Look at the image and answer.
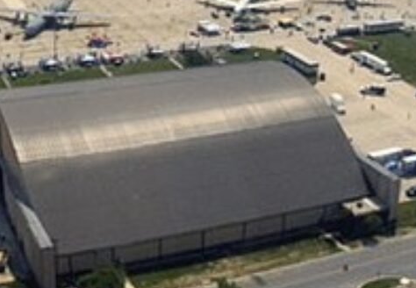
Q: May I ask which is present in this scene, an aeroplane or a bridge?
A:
aeroplane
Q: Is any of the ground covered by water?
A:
No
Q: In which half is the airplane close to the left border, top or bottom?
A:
top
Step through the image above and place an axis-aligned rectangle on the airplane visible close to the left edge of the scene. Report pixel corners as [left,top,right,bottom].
[0,0,104,36]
